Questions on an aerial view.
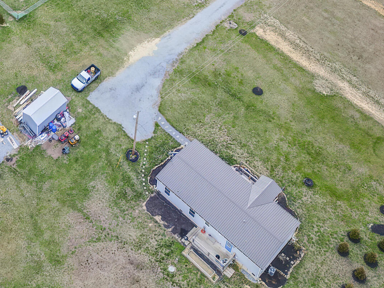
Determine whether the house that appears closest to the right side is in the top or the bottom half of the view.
bottom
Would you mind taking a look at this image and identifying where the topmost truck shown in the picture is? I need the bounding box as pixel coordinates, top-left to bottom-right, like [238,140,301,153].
[69,62,102,93]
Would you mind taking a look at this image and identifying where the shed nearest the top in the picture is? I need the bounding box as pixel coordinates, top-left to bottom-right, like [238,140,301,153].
[22,88,68,134]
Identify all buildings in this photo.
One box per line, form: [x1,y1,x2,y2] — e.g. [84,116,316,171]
[22,88,68,134]
[152,139,301,281]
